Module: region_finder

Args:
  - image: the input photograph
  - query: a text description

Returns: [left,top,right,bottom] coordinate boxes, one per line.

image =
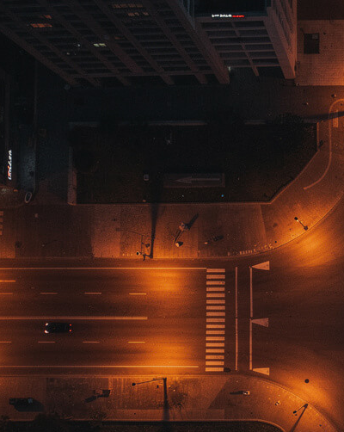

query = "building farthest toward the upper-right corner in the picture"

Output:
[184,0,296,77]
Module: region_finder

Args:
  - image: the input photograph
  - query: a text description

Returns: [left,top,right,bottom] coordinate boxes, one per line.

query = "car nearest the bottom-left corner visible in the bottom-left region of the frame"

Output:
[6,397,32,409]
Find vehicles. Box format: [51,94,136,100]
[6,397,32,409]
[42,321,70,335]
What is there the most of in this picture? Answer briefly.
paved ground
